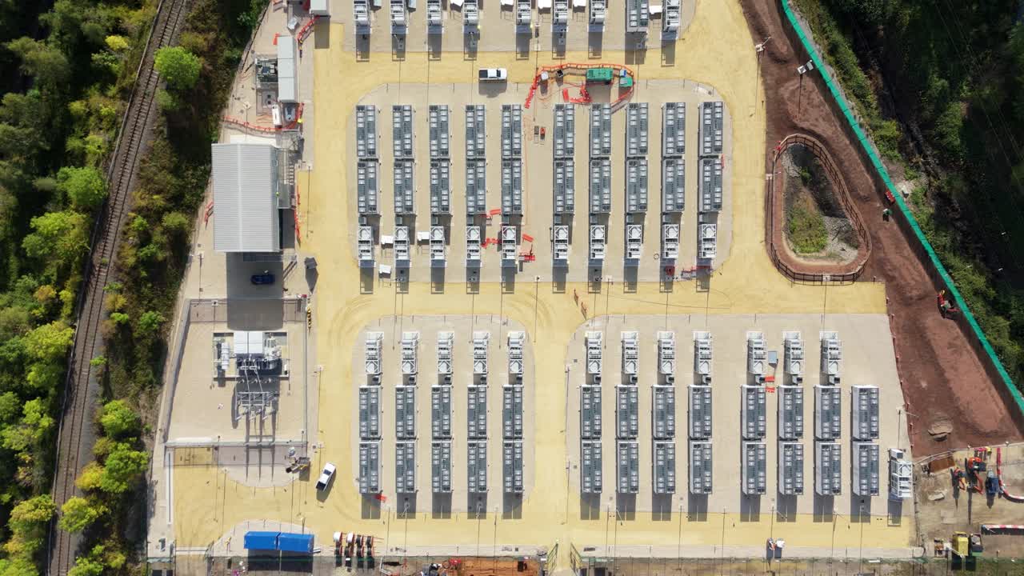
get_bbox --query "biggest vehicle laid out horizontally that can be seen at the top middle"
[478,66,508,80]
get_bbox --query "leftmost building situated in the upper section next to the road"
[211,143,283,252]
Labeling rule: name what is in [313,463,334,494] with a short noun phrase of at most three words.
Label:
truck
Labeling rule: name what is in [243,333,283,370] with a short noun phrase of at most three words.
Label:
storage tank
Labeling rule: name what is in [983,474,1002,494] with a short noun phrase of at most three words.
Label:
vehicle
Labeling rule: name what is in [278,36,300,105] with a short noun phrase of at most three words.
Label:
building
